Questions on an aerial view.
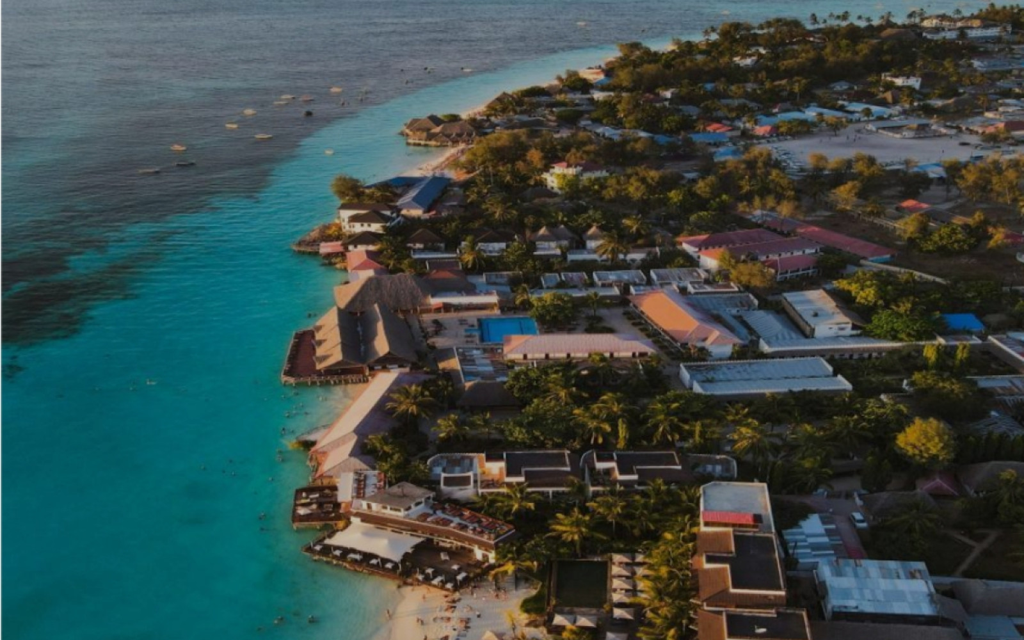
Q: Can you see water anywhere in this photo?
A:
Yes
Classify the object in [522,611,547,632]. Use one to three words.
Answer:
umbrella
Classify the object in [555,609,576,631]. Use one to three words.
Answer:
umbrella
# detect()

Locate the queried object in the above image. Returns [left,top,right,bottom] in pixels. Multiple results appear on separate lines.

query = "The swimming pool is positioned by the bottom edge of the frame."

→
[544,555,614,615]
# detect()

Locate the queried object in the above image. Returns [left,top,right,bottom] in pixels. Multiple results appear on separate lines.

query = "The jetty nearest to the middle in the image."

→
[282,324,371,392]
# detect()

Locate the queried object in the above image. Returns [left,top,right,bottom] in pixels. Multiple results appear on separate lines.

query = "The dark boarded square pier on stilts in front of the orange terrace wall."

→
[292,489,348,536]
